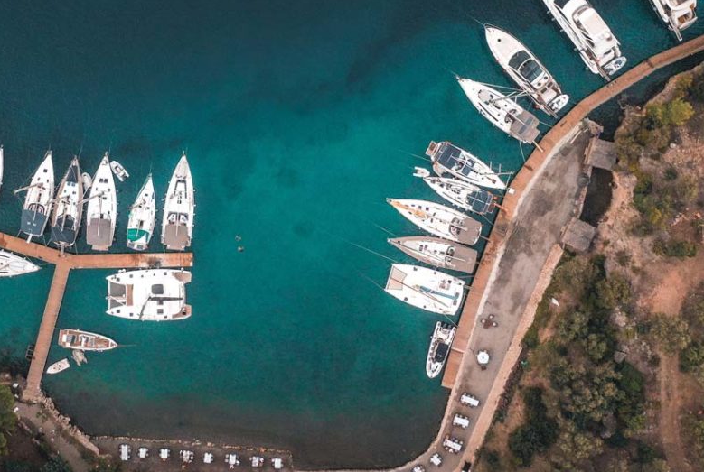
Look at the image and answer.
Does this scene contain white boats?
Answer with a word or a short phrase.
Yes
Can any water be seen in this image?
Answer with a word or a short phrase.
Yes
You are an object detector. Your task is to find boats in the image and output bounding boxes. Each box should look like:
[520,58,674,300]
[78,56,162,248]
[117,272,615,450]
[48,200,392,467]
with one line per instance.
[603,57,628,74]
[432,164,445,177]
[409,140,521,192]
[471,16,573,117]
[384,197,490,255]
[546,95,568,113]
[76,141,122,251]
[159,144,198,251]
[361,225,484,274]
[83,173,92,189]
[72,350,88,366]
[47,359,71,375]
[347,240,475,325]
[639,0,701,41]
[54,328,118,353]
[429,323,454,380]
[127,158,159,254]
[541,0,621,85]
[111,162,127,181]
[0,250,51,279]
[14,139,56,248]
[414,167,431,178]
[455,77,545,162]
[422,176,509,228]
[43,145,85,256]
[105,266,193,323]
